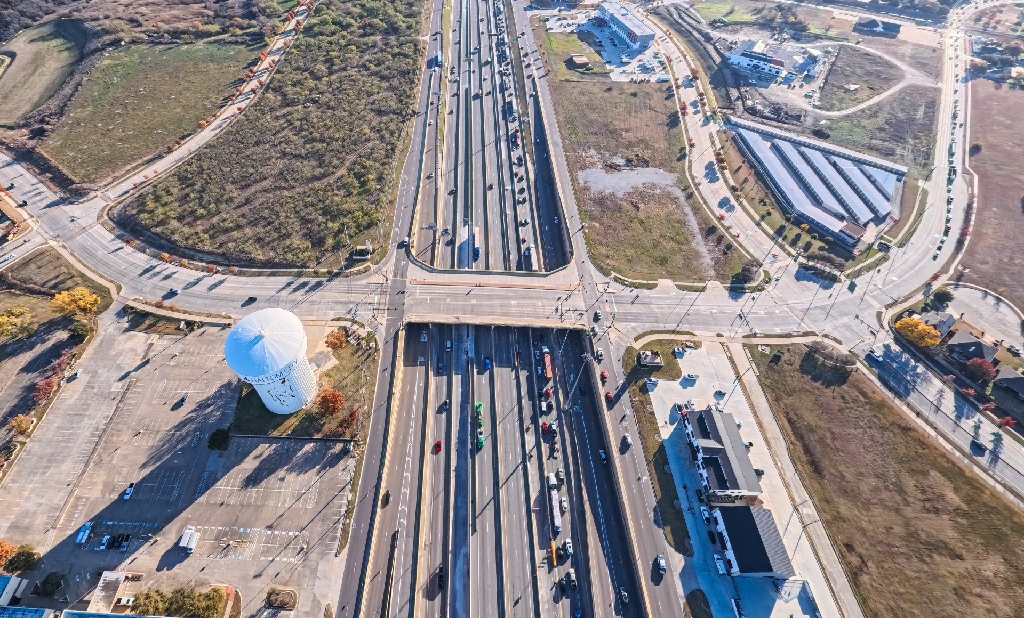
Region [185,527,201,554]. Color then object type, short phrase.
white vehicle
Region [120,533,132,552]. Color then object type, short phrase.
blue vehicle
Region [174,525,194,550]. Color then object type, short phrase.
white vehicle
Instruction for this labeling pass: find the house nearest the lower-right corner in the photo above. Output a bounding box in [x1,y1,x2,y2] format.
[992,365,1024,409]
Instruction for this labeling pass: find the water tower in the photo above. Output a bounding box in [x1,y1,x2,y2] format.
[225,309,319,415]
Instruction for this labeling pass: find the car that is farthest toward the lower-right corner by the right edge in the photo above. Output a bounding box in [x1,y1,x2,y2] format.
[971,439,987,451]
